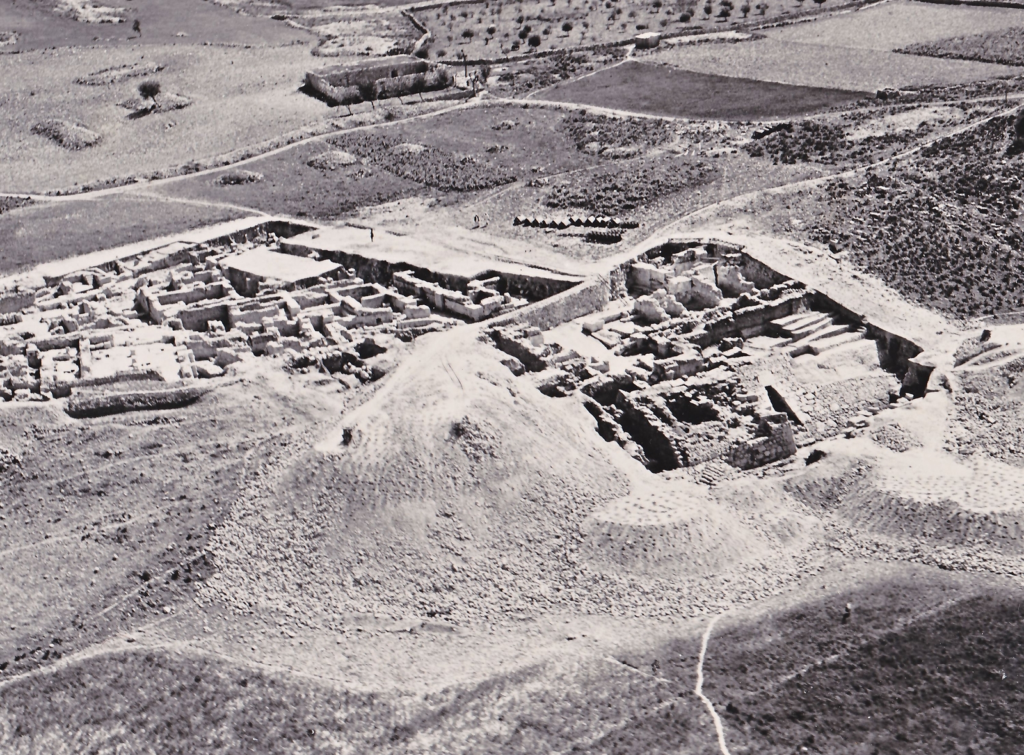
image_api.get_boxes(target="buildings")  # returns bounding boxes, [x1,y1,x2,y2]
[634,33,660,50]
[305,57,428,92]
